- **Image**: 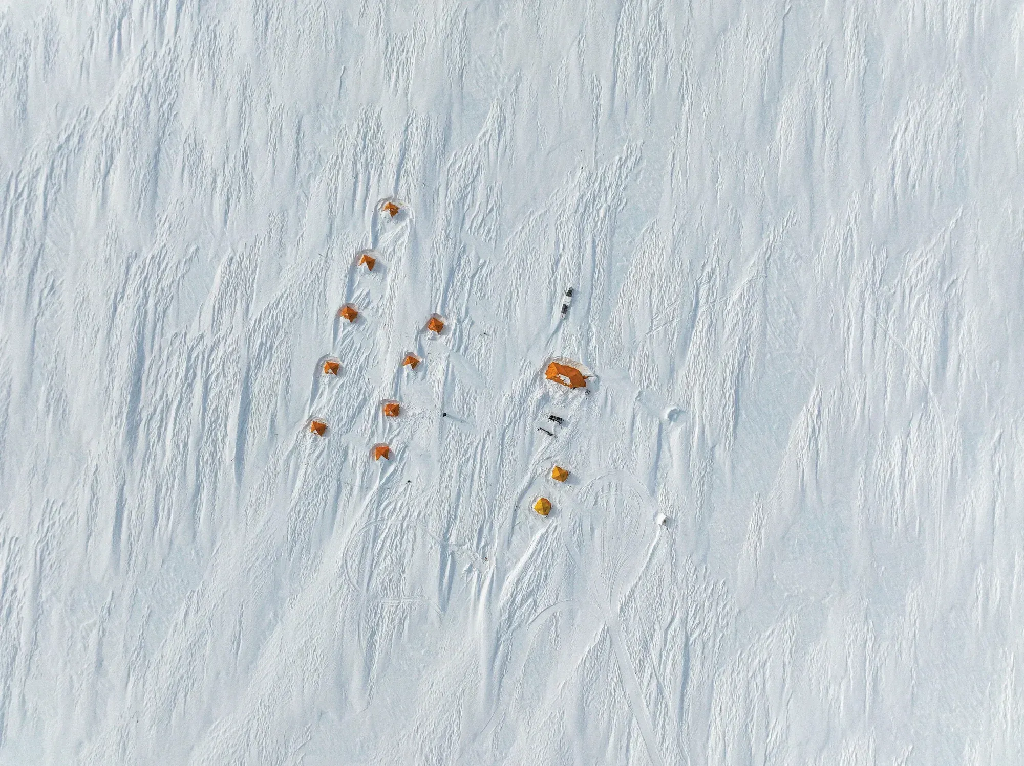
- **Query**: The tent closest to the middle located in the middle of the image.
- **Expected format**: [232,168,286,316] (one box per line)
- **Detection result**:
[545,362,592,390]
